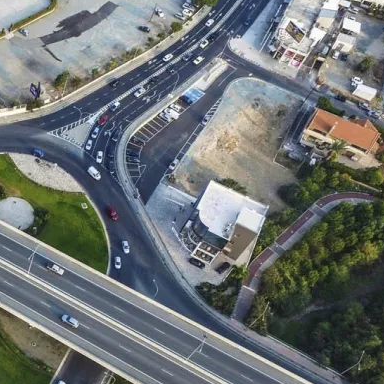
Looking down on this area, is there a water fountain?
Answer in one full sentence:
No, the scene contains no water fountain.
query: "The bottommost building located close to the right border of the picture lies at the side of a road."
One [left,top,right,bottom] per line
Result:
[296,107,384,165]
